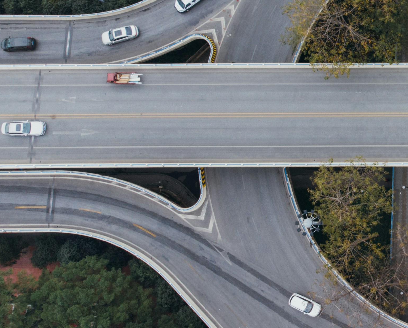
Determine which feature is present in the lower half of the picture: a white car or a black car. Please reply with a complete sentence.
The feature located in the lower half of the picture is a white car.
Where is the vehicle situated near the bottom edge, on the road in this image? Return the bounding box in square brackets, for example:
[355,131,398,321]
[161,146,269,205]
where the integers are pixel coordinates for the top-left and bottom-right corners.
[287,291,323,318]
